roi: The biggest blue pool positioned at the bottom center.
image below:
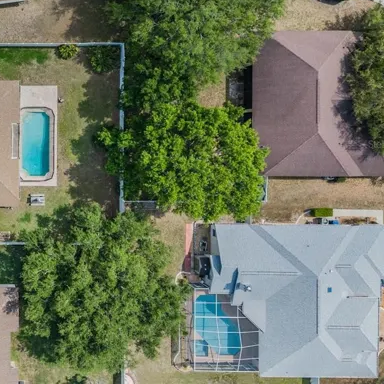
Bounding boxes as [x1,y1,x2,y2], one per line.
[195,293,242,357]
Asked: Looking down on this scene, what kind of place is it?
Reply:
residential area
